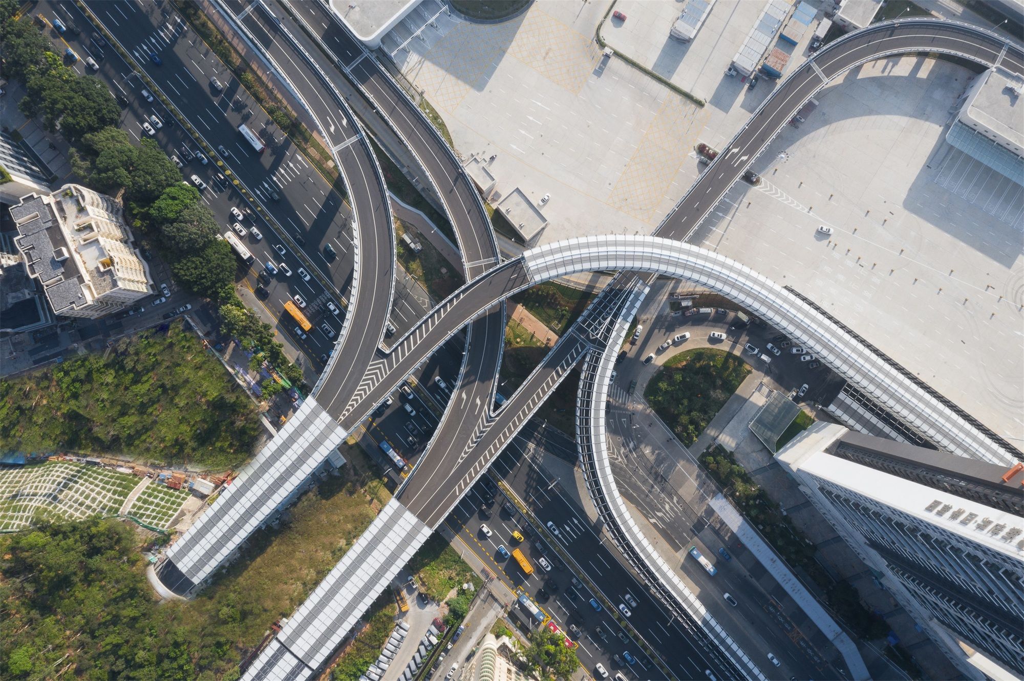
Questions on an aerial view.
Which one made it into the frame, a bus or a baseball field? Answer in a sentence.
The image shows a bus.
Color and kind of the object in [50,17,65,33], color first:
blue car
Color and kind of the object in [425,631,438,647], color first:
white vehicle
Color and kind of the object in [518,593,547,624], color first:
white bus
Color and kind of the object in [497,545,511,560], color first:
blue car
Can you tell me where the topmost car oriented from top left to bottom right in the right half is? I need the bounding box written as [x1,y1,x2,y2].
[612,8,628,21]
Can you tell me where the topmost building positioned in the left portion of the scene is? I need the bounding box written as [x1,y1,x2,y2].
[329,0,441,60]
